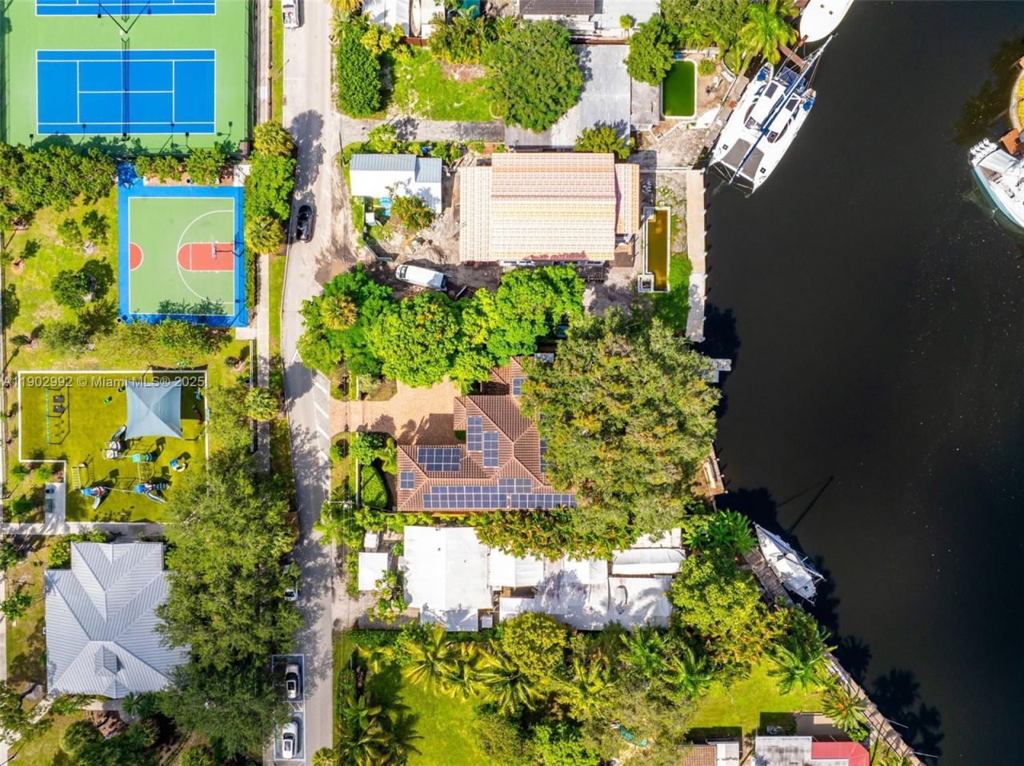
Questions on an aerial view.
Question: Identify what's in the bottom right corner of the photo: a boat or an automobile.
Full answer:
There is a boat in the bottom right corner of the photo.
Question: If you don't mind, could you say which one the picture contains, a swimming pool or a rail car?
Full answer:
The image shows a swimming pool.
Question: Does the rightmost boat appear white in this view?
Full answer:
Yes, the rightmost boat appears white.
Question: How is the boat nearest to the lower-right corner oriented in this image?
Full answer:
Seen from above, the boat nearest to the lower-right corner lies on a diagonal.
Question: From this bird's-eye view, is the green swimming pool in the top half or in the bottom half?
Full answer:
It is in the top half that the green swimming pool appears.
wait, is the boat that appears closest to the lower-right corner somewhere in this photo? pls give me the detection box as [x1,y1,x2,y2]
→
[756,524,826,605]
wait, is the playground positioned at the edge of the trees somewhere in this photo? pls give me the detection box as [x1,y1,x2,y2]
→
[20,373,205,522]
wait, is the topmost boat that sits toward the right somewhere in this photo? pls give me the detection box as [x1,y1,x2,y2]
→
[798,0,851,47]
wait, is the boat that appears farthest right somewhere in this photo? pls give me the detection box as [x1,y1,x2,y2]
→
[971,134,1024,224]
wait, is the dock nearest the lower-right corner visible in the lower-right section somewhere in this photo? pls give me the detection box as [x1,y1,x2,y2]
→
[820,653,924,766]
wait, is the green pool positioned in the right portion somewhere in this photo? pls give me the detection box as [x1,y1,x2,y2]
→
[661,58,697,119]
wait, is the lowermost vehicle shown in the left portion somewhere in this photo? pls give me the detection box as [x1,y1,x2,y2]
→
[278,722,298,761]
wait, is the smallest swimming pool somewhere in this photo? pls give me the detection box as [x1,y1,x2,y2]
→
[638,274,654,292]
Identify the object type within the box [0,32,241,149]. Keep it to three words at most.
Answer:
tennis court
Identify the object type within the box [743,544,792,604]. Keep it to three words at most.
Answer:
pier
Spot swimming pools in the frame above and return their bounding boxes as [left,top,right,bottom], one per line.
[661,58,697,119]
[643,205,671,291]
[638,274,654,292]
